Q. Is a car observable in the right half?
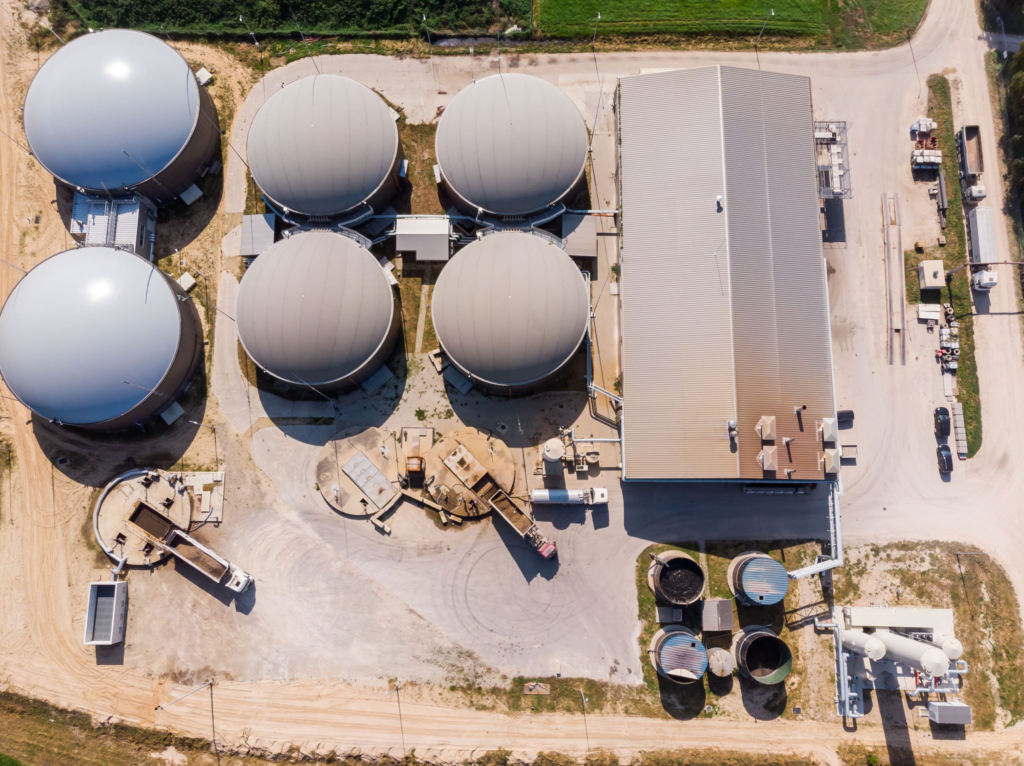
Yes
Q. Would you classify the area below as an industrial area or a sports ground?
industrial area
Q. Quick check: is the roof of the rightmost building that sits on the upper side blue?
No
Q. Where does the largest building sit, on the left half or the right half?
right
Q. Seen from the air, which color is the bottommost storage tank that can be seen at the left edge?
white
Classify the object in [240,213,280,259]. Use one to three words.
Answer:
building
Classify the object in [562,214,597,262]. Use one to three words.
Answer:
building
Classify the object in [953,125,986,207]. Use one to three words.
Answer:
truck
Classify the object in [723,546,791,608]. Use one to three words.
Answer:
storage tank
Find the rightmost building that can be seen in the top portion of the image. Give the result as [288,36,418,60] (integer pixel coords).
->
[916,260,945,290]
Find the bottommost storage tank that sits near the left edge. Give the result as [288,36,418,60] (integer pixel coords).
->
[0,245,205,433]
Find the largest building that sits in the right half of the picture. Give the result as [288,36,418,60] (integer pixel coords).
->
[613,63,837,481]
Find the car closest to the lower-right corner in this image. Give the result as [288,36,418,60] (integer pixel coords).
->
[936,445,955,471]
